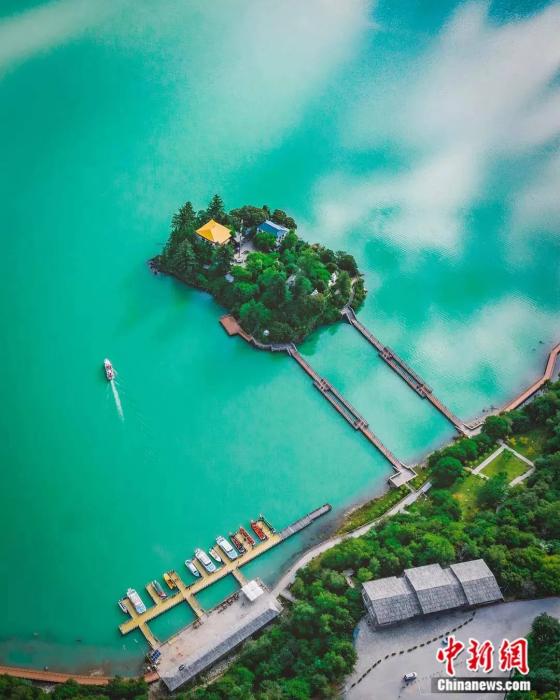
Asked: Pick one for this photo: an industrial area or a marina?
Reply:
marina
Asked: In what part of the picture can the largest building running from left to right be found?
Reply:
bottom right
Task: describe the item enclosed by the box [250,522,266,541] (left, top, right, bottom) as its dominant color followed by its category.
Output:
red boat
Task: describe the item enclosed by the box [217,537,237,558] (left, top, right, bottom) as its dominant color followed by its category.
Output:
white boat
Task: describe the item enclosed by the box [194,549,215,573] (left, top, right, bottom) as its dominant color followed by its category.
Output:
white boat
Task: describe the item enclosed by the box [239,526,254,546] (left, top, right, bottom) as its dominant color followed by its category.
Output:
red boat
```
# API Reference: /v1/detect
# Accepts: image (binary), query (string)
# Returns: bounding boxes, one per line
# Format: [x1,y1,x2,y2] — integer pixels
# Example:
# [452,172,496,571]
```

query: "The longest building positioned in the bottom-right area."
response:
[361,558,505,635]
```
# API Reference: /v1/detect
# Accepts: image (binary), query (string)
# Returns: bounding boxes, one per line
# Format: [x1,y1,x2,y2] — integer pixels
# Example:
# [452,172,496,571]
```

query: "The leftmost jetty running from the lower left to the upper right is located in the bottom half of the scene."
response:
[120,522,282,634]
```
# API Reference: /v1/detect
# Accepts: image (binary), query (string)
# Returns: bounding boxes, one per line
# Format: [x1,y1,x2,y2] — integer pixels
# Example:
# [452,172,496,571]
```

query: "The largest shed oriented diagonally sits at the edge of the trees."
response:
[162,603,284,687]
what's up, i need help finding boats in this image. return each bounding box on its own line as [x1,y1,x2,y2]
[229,536,243,554]
[194,549,215,573]
[127,587,144,612]
[151,581,165,600]
[105,359,114,381]
[209,549,221,562]
[239,526,254,546]
[185,560,200,577]
[217,537,237,558]
[250,522,266,541]
[165,574,177,590]
[261,515,274,533]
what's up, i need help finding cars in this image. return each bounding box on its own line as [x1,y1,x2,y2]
[439,634,451,647]
[403,671,418,682]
